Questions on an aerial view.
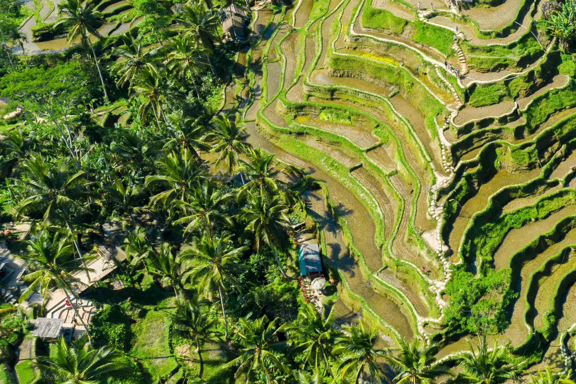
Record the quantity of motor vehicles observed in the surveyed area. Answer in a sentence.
The photo contains no motor vehicles.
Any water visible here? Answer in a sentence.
Yes, there is water in the image.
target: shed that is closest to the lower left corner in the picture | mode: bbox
[22,316,68,346]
